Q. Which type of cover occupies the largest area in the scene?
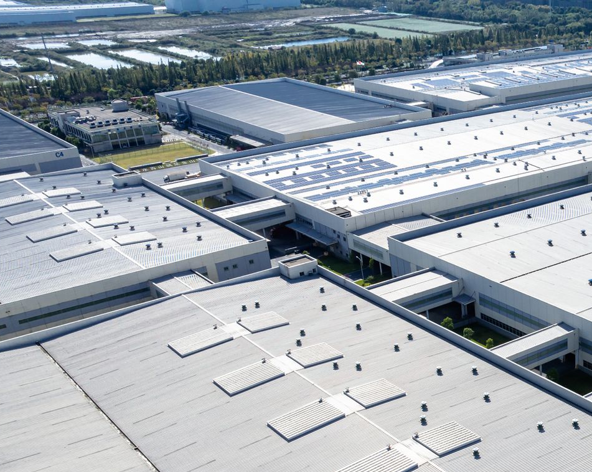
buildings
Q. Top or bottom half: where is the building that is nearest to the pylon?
top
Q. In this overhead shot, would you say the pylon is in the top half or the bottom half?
top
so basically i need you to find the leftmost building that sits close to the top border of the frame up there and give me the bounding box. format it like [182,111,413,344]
[0,2,76,25]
